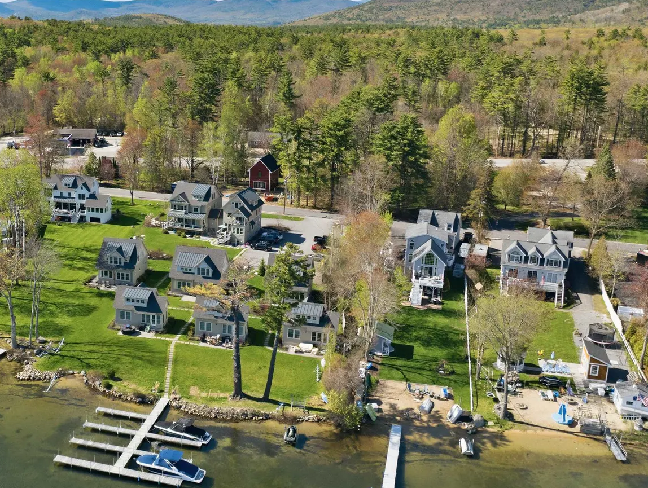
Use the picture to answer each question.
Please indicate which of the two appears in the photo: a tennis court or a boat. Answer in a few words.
boat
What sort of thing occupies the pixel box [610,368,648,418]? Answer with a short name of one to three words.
building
